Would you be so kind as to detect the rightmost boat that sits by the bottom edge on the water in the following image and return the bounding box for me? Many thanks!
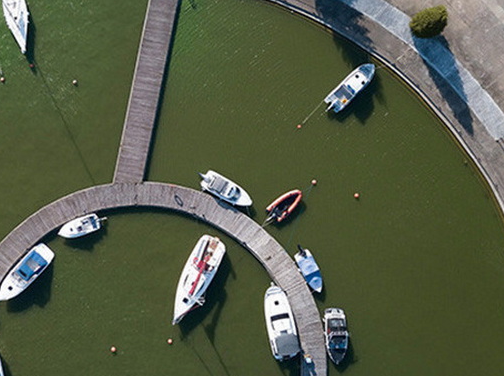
[322,305,347,365]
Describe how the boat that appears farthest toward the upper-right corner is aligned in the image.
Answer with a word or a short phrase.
at an angle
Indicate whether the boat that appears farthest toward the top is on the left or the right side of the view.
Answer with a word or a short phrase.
left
